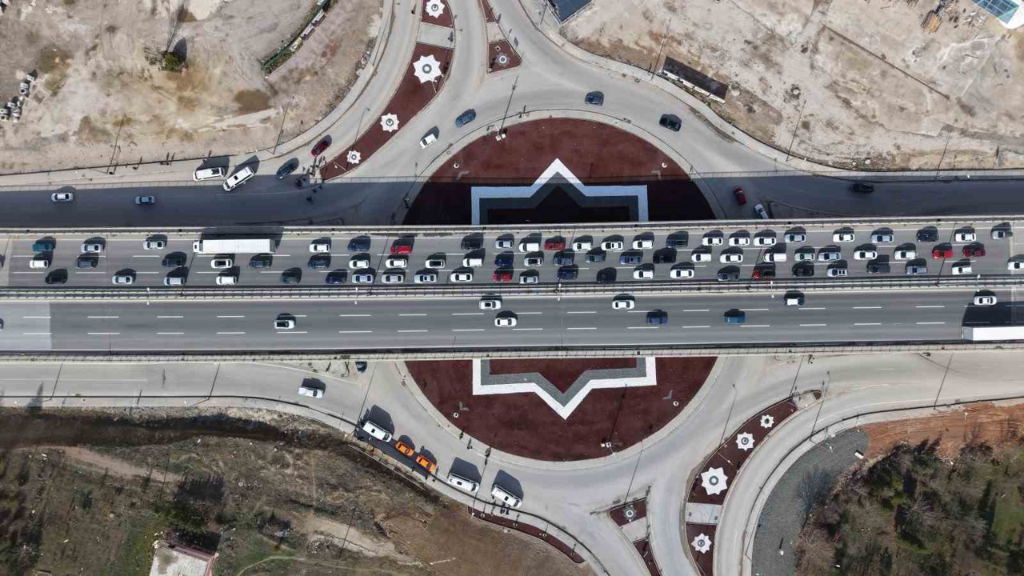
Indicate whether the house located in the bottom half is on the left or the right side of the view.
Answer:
left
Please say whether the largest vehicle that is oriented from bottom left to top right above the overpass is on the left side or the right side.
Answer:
left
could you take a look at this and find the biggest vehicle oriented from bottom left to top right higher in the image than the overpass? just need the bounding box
[225,165,257,192]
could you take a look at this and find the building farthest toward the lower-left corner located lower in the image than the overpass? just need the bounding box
[152,546,221,576]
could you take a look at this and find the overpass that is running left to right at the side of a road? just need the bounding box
[0,215,1024,363]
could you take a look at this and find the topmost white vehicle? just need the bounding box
[420,131,438,146]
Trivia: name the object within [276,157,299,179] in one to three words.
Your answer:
car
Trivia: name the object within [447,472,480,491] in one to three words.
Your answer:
vehicle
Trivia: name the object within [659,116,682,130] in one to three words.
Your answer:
car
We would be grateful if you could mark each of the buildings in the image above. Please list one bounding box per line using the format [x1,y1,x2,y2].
[969,0,1024,31]
[544,0,598,26]
[152,546,221,576]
